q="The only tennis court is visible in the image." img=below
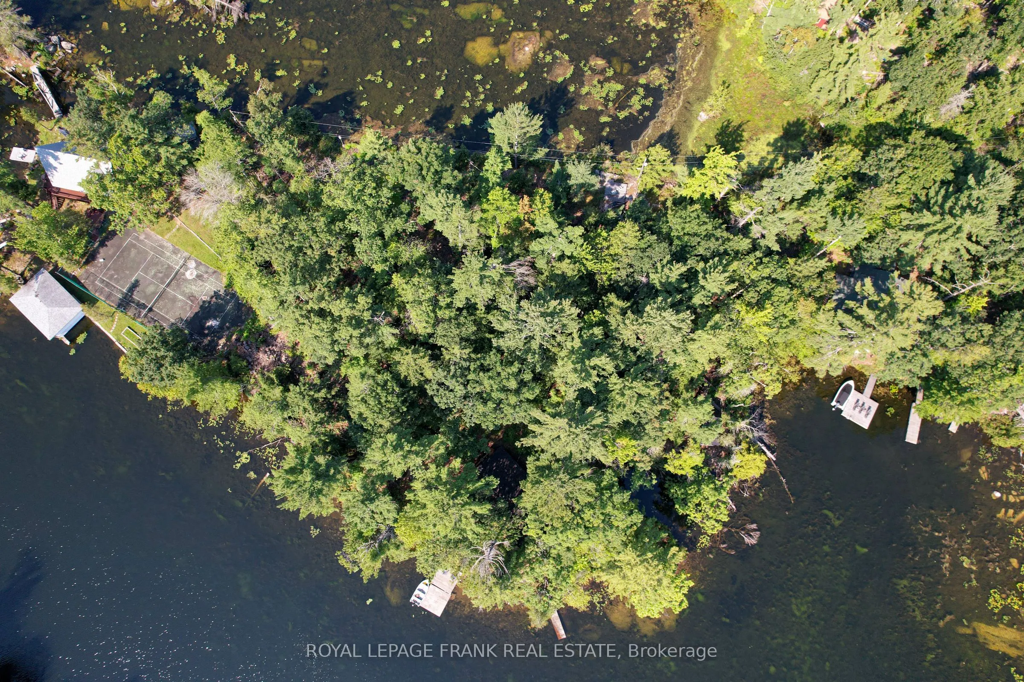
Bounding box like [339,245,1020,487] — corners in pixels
[78,224,246,354]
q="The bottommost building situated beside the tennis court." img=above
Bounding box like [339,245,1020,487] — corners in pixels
[9,267,87,342]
